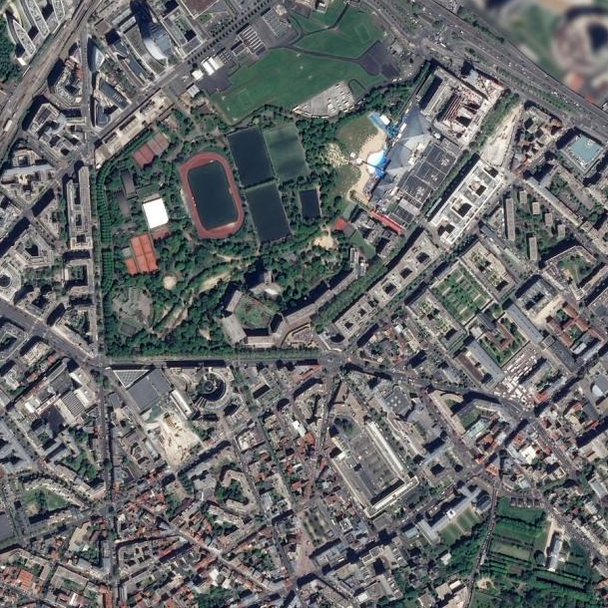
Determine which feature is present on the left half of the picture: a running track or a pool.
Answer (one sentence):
What appears on the left half of the picture is a running track.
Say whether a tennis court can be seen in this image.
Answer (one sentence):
Yes, the image includes a tennis court.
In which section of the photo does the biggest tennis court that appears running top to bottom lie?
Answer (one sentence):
You can find the biggest tennis court that appears running top to bottom in the left area of the picture.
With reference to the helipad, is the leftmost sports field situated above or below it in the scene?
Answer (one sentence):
The leftmost sports field is found below the helipad in the photo.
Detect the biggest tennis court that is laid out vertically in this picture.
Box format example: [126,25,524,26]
[132,233,158,275]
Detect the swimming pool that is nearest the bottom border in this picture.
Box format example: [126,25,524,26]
[365,147,387,179]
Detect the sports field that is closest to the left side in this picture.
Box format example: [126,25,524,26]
[188,161,237,229]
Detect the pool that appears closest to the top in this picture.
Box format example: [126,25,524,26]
[368,110,400,141]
